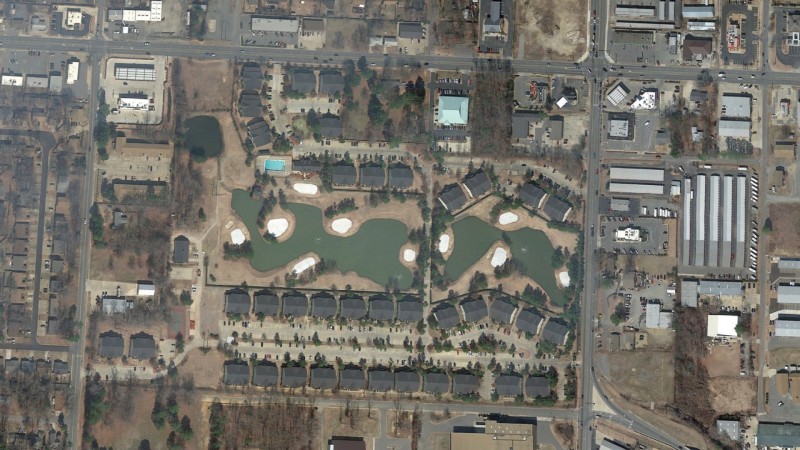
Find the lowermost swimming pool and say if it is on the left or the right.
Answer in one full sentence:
You can find the lowermost swimming pool on the left side of the picture.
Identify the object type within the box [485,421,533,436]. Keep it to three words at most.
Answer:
building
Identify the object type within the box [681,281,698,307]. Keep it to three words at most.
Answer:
shed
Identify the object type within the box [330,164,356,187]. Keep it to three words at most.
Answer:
building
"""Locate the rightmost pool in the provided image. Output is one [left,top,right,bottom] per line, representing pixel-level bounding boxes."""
[256,156,292,176]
